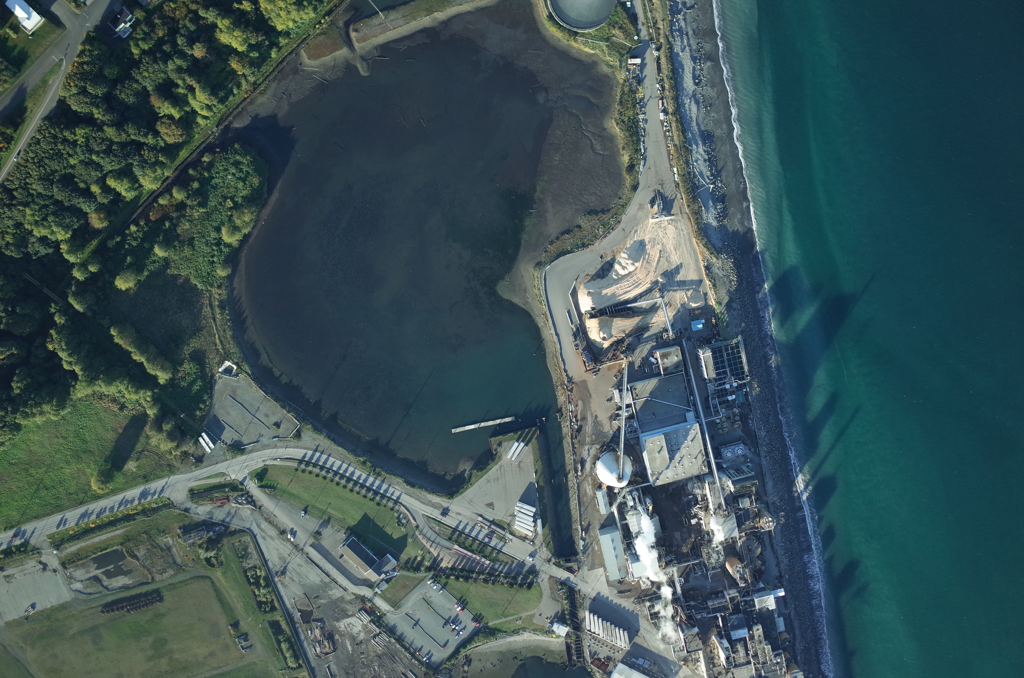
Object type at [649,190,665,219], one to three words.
vehicle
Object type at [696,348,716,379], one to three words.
house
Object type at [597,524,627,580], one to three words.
building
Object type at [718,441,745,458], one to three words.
cooling tower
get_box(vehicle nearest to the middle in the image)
[575,338,594,371]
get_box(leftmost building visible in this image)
[6,0,48,35]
